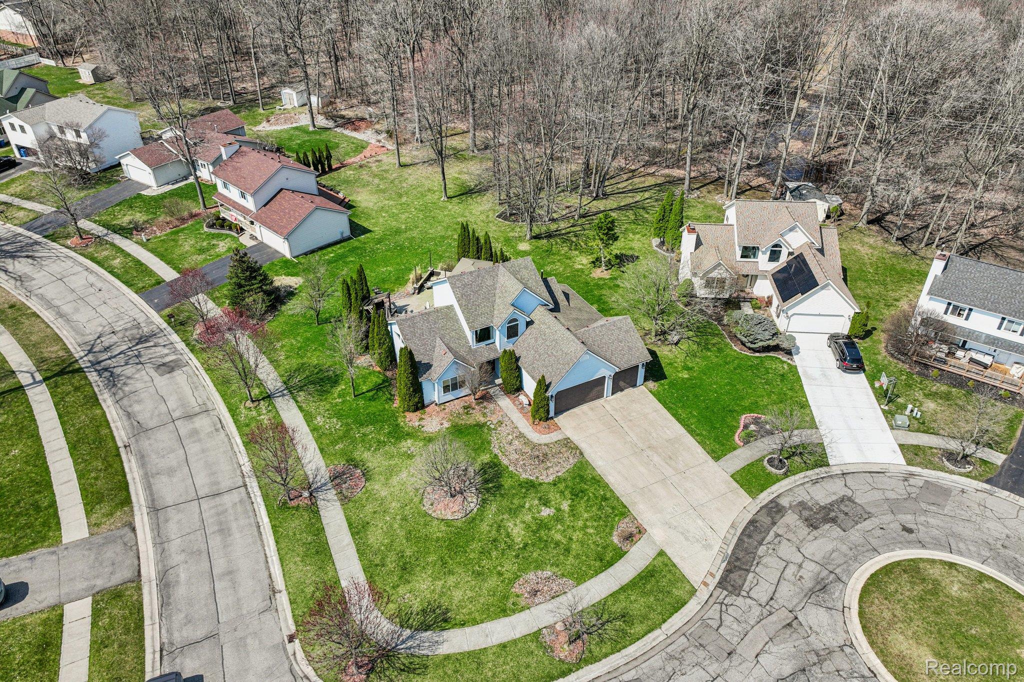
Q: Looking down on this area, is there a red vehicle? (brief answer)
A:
No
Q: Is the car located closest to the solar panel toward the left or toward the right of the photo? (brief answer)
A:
right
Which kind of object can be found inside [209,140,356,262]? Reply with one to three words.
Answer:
house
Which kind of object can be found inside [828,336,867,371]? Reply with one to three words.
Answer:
car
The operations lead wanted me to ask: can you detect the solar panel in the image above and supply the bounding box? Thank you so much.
[770,253,818,304]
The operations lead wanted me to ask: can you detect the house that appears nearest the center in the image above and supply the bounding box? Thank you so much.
[386,255,654,417]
